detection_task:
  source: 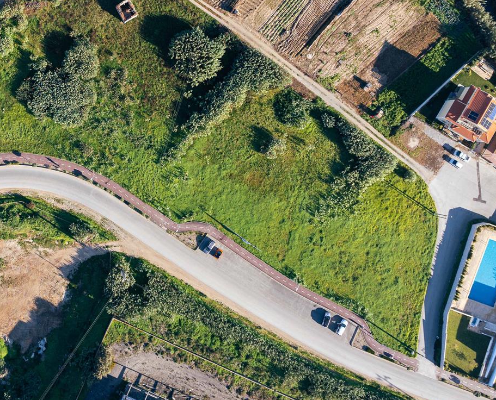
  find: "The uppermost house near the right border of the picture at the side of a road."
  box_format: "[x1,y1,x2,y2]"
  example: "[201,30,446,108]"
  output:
[431,85,496,143]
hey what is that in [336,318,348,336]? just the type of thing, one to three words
vehicle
